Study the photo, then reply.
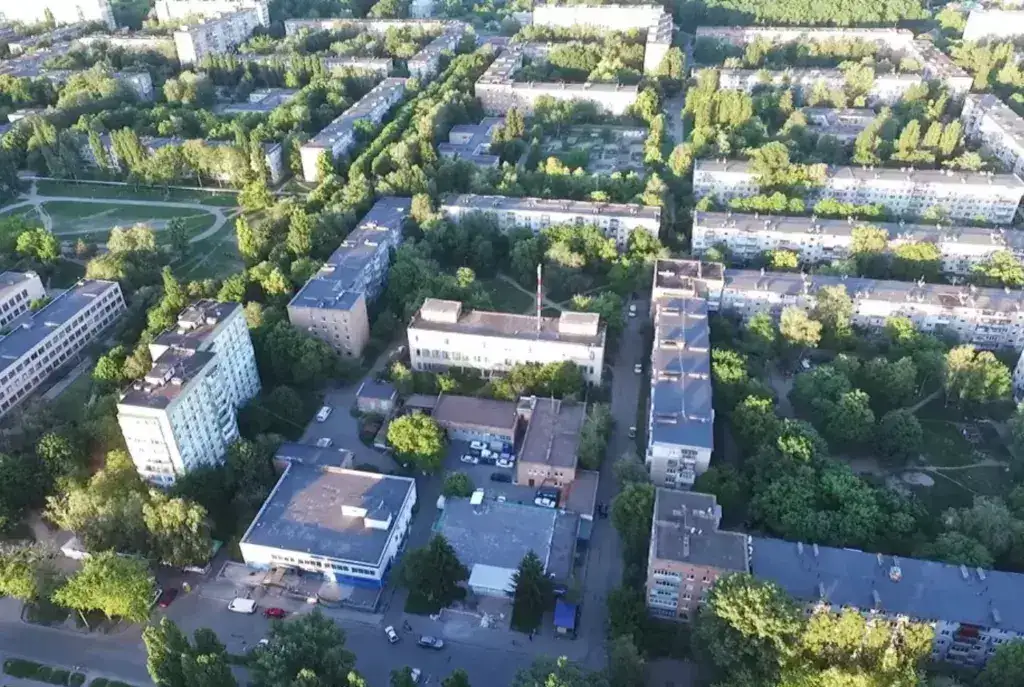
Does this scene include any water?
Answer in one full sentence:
No, the picture contains no water.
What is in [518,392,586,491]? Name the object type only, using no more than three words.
building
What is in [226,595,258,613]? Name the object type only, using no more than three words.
vehicle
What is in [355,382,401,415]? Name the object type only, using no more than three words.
shed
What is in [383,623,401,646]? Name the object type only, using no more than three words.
car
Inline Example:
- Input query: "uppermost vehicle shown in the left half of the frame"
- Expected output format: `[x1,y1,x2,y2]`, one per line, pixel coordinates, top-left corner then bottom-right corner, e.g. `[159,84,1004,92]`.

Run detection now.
[315,407,333,420]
